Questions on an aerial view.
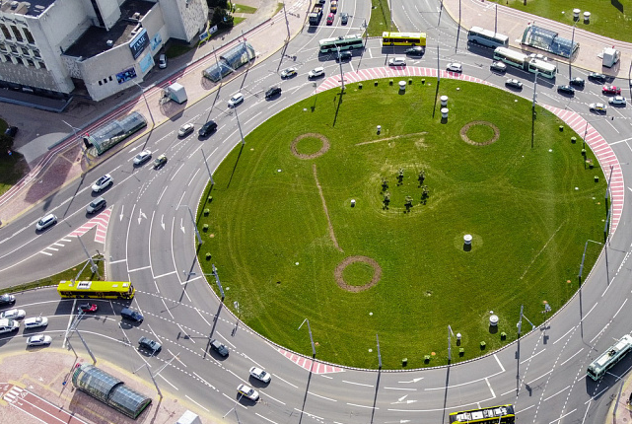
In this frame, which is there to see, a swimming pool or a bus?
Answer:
bus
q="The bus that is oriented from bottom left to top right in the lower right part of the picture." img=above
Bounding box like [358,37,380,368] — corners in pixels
[583,334,632,381]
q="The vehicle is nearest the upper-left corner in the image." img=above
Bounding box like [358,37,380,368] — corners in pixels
[2,124,21,137]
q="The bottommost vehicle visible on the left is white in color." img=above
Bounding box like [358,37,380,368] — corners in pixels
[235,384,261,402]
